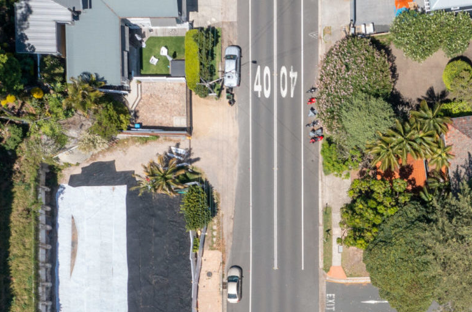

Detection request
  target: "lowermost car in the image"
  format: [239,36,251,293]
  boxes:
[225,267,243,303]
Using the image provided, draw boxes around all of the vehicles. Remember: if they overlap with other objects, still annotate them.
[309,127,325,137]
[225,267,243,303]
[303,95,319,104]
[304,120,320,127]
[309,135,324,143]
[304,107,323,118]
[222,45,241,87]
